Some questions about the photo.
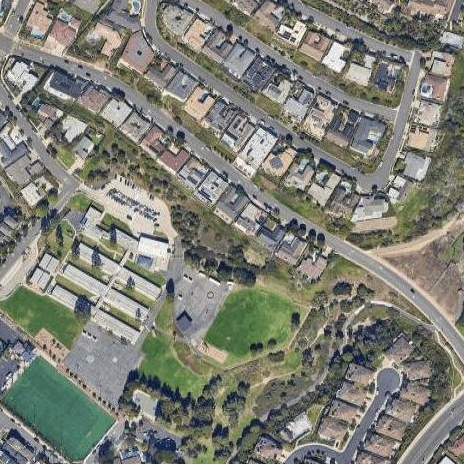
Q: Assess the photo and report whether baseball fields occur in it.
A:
Yes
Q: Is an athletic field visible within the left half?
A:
Yes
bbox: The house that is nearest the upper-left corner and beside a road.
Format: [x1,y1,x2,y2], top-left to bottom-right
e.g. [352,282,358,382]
[27,4,54,36]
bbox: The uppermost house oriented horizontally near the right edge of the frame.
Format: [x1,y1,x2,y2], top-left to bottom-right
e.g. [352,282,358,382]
[405,0,446,19]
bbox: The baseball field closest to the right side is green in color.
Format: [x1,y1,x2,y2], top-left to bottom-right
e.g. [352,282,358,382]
[197,287,309,367]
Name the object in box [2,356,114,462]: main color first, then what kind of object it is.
green sports field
